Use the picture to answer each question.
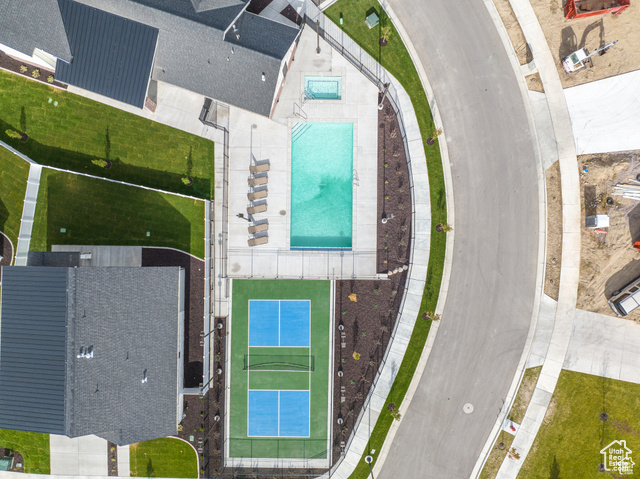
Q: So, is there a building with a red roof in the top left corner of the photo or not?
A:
No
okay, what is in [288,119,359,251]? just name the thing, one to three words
swimming pool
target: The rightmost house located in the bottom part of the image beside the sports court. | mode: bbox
[1,252,186,446]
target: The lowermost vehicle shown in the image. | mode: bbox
[611,281,640,317]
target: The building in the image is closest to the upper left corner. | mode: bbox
[0,0,301,121]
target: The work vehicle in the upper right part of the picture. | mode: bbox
[561,39,622,75]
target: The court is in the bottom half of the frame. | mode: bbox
[231,281,330,458]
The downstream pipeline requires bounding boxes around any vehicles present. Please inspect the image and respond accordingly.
[561,39,622,75]
[611,281,640,317]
